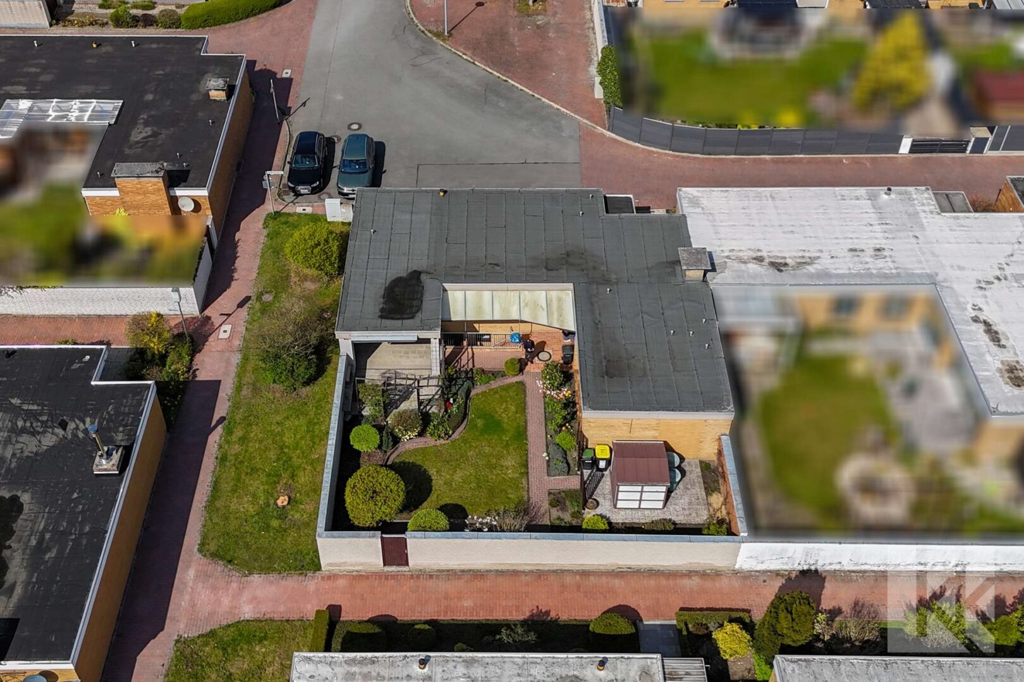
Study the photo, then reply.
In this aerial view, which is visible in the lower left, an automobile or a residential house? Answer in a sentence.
It is a residential house that can be seen in the lower left.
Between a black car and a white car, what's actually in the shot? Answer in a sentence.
It is a black car that can be seen here.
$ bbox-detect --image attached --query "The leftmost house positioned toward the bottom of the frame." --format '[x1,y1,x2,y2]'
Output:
[0,344,164,682]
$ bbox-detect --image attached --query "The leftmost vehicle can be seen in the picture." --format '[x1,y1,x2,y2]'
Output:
[286,131,329,192]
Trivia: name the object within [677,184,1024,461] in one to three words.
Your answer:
house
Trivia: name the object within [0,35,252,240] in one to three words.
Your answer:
house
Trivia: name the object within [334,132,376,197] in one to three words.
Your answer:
car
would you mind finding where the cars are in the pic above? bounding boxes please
[286,131,329,192]
[334,132,376,197]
